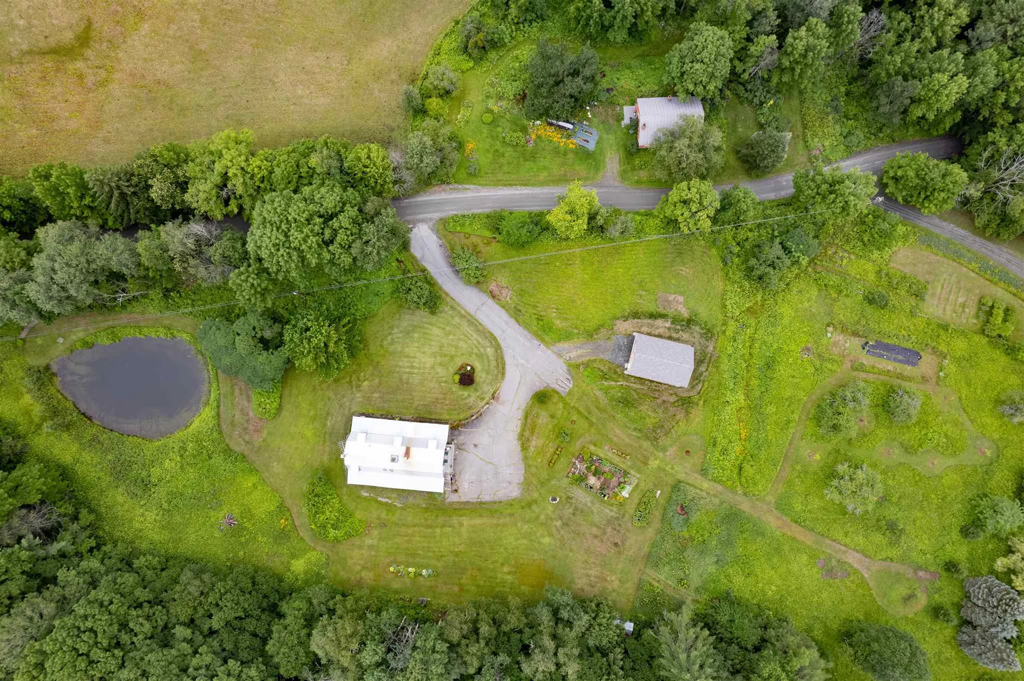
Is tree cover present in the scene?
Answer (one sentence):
Yes, some tree cover is visible.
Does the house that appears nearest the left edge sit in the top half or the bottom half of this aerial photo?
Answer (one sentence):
The house that appears nearest the left edge sits in the bottom half of the picture.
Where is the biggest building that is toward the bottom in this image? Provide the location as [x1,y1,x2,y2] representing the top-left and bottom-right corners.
[343,416,449,492]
